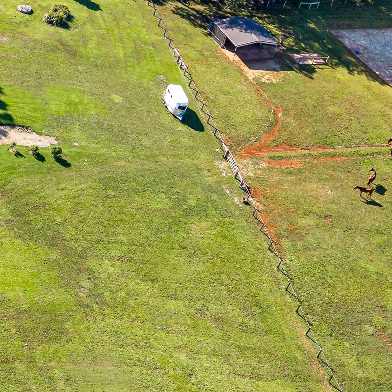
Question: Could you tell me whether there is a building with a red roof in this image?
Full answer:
No, the picture doesn't show any building with a red roof.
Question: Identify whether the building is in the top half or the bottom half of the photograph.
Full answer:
Seen from above, the building lies in the top half of the view.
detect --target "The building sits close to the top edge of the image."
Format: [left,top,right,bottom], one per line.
[207,18,278,59]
